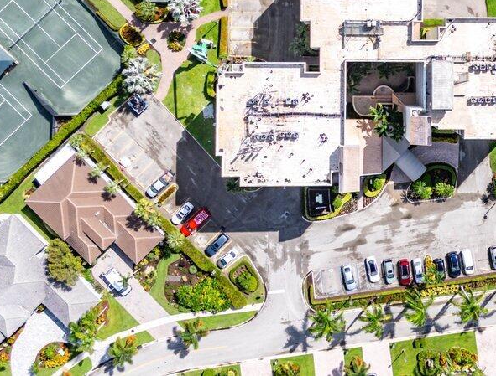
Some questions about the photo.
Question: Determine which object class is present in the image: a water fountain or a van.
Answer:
van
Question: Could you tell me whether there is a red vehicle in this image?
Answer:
Yes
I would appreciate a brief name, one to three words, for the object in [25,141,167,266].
house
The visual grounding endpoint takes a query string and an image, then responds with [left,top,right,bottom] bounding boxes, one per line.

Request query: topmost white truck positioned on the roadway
[146,173,174,198]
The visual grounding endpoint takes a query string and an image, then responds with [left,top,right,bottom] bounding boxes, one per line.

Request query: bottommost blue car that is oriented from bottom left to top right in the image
[206,233,230,257]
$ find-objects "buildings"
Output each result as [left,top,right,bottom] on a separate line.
[25,141,167,266]
[0,212,107,341]
[215,0,496,193]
